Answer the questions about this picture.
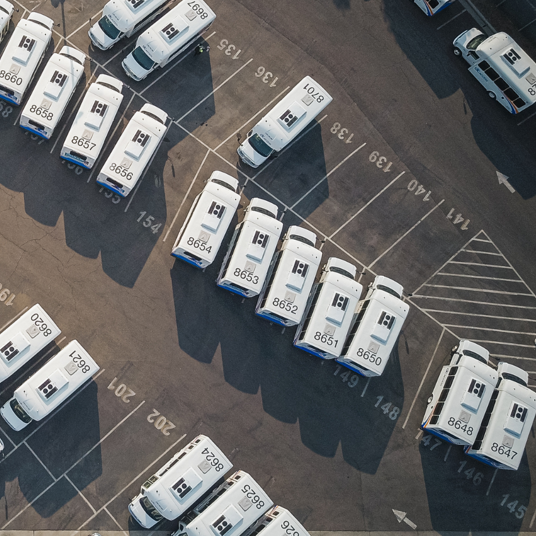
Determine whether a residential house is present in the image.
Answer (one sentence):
No, there's no residential house here.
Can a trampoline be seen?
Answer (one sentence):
No, the scene contains no trampoline.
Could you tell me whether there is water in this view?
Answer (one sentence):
No, the picture contains no water.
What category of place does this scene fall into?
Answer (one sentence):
The area seen from above is a parking lot.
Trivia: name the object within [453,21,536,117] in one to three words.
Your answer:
vehicle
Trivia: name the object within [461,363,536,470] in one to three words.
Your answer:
vehicle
